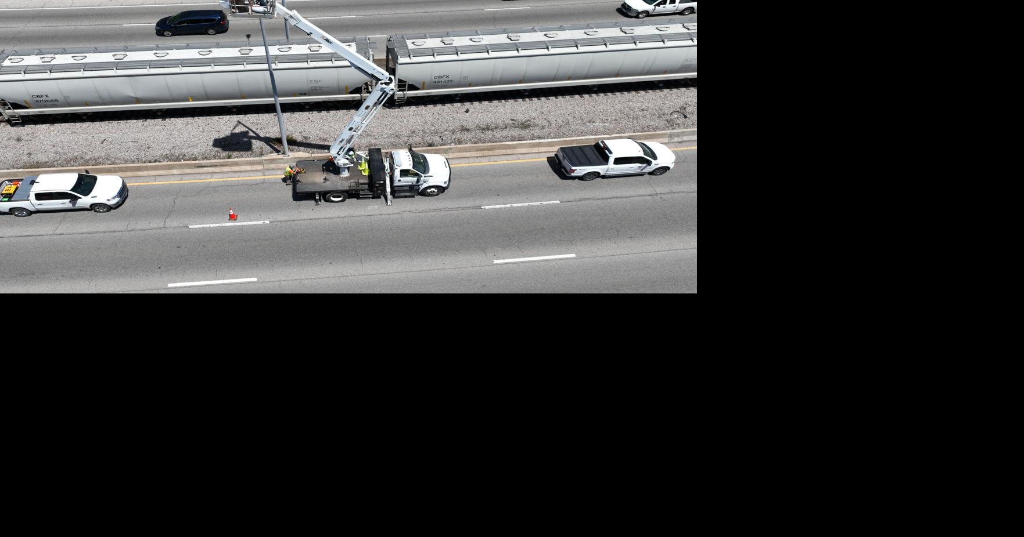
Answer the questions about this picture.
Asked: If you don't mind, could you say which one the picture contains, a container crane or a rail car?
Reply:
rail car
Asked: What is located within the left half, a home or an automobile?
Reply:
automobile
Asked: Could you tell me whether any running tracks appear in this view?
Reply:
No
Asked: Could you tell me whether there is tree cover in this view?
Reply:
No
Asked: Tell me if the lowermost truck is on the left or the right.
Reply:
left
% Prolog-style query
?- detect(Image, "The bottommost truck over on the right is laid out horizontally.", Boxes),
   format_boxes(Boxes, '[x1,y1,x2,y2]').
[555,136,678,179]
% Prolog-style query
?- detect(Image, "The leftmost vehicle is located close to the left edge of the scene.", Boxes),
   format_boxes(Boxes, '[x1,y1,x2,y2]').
[0,169,128,215]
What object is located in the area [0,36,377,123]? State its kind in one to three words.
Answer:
rail car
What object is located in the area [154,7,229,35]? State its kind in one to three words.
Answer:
car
